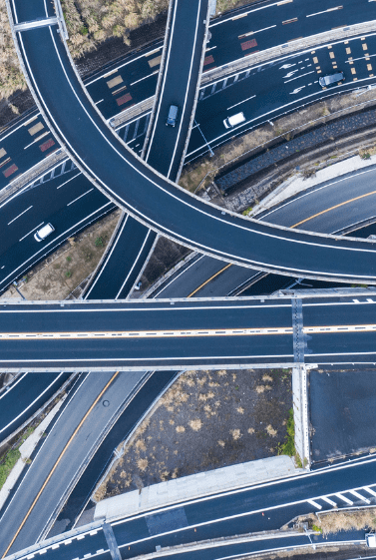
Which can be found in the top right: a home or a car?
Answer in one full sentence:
The one visible in the top right is a car.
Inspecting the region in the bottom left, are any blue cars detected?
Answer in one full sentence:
No, there's no blue car to be seen in the bottom left.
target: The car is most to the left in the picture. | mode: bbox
[31,220,56,241]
